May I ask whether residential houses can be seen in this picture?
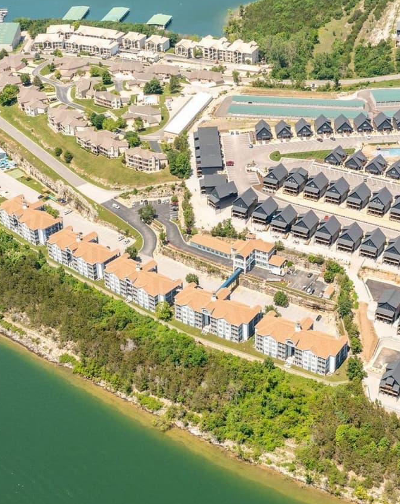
Yes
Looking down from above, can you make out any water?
Yes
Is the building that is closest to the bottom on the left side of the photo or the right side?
right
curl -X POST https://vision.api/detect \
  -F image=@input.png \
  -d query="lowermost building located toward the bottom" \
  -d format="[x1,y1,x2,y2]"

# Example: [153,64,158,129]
[376,360,400,403]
